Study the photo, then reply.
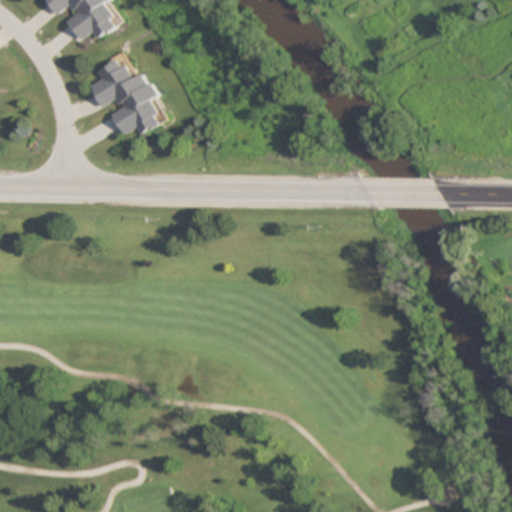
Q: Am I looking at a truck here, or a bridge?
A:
bridge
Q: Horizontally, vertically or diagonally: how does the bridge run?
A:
horizontally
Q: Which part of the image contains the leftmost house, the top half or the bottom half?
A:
top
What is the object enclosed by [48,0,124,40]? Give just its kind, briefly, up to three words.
house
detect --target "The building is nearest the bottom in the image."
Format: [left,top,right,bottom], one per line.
[91,52,168,136]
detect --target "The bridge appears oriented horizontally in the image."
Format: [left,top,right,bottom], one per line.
[354,170,456,216]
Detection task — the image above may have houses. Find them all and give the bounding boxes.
[91,52,168,136]
[48,0,124,40]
